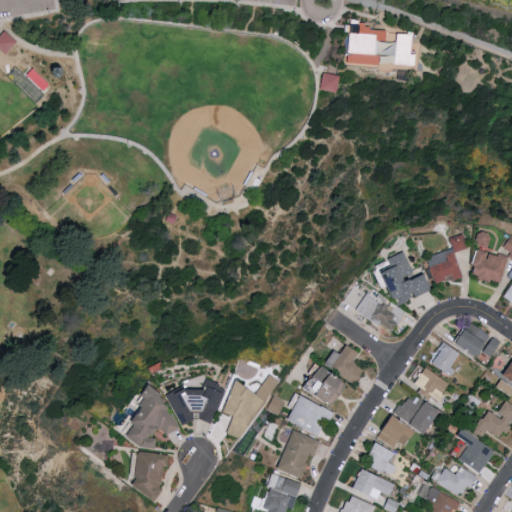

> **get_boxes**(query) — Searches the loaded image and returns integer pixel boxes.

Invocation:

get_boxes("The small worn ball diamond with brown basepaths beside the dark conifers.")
[52,171,130,238]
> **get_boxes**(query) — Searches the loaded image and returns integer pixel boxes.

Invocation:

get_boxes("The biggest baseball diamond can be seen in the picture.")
[69,20,315,204]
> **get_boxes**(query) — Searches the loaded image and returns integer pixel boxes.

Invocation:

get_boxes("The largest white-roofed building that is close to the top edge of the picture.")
[345,18,386,64]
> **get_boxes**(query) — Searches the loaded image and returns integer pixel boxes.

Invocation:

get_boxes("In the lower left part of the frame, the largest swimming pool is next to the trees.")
[112,411,127,426]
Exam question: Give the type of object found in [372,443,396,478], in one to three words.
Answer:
house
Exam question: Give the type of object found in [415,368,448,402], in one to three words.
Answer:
house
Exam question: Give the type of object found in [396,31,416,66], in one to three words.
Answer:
building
